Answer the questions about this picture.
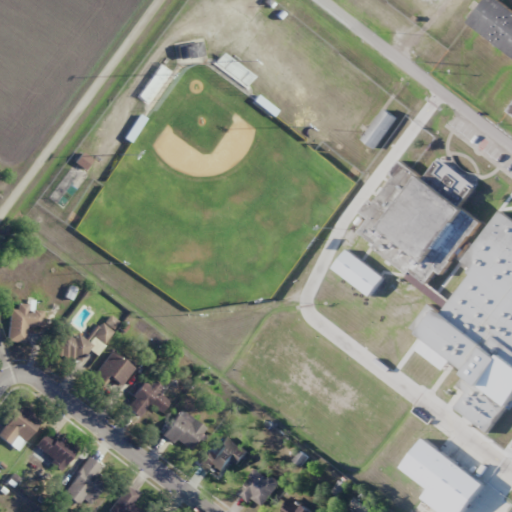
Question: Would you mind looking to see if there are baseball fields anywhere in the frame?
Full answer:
Yes, the frame does contain a baseball field.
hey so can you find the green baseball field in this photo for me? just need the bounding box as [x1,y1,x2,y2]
[78,65,354,310]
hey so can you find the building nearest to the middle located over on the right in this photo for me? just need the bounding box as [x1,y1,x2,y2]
[331,250,382,296]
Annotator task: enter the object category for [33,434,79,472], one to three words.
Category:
house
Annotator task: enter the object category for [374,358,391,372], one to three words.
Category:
vehicle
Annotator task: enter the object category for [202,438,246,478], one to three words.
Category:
house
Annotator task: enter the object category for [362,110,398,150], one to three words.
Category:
building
